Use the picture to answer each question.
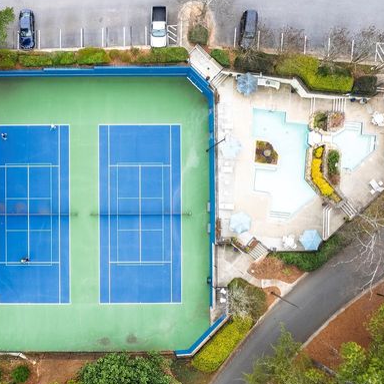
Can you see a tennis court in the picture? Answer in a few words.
Yes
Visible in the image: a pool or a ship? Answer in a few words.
pool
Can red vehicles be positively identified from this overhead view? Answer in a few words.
No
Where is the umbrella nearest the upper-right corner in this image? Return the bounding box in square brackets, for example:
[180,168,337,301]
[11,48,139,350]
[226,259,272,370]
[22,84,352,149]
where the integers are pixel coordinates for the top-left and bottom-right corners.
[235,73,258,95]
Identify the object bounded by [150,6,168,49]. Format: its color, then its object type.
white vehicle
